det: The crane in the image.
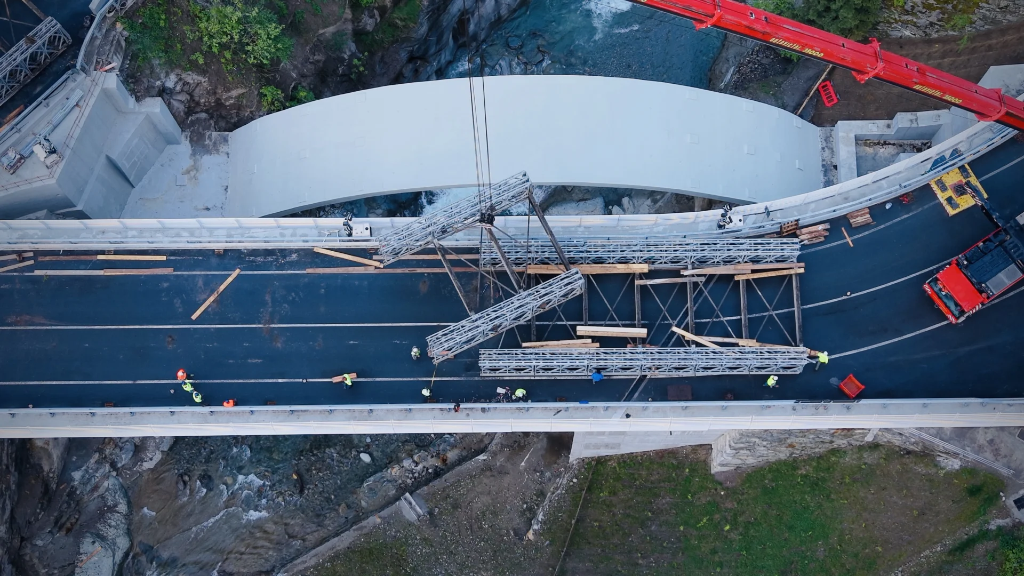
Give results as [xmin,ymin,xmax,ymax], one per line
[547,0,1024,324]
